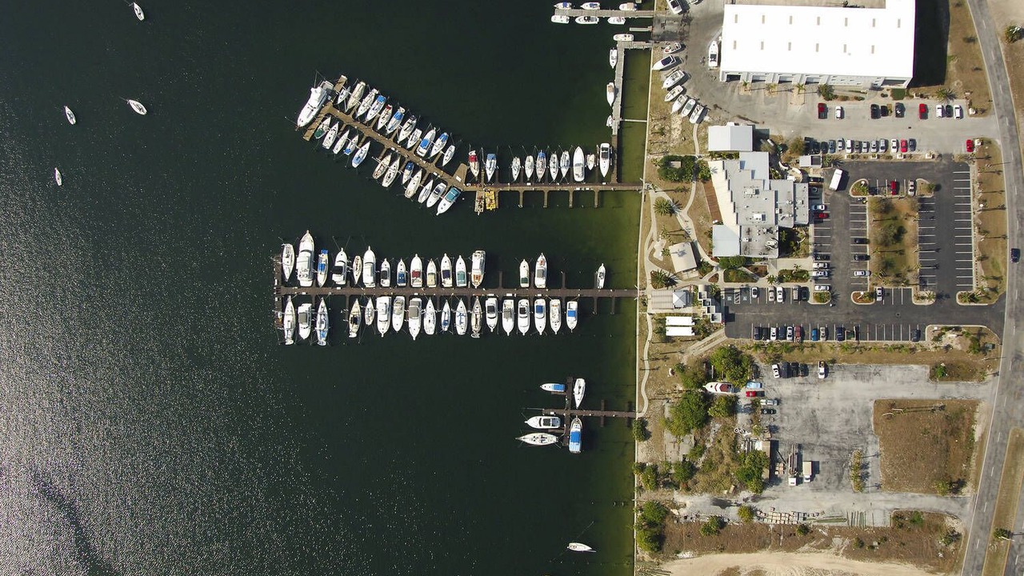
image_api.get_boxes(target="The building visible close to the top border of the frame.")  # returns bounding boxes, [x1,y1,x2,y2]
[722,0,916,95]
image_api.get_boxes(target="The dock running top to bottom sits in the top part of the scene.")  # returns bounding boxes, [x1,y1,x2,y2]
[611,39,652,183]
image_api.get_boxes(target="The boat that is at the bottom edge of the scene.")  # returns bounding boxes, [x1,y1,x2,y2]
[565,541,592,555]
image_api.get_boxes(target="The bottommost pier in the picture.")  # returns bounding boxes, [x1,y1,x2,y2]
[543,376,636,447]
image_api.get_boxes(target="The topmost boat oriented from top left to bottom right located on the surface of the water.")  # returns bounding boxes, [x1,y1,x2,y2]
[124,0,146,22]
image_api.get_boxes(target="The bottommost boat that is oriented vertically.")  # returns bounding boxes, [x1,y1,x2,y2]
[569,417,582,454]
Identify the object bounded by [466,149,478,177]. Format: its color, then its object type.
white boat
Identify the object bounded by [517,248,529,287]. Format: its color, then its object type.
white boat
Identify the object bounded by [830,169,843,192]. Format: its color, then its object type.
white vehicle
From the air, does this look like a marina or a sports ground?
marina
